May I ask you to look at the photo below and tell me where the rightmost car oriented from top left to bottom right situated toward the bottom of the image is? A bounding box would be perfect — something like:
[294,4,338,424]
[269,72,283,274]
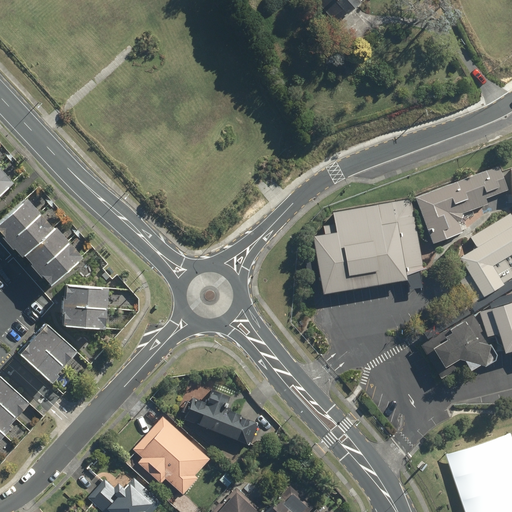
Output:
[256,414,272,430]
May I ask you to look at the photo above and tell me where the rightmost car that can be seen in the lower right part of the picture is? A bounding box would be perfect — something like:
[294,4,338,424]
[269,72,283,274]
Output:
[383,400,398,418]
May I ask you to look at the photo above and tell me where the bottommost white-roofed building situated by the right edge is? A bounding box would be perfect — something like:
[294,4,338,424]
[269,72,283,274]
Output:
[447,434,512,512]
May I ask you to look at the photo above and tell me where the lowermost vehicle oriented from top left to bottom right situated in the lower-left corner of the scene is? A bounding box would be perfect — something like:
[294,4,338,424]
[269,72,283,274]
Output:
[77,474,92,489]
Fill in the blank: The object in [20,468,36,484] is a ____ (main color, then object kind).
white car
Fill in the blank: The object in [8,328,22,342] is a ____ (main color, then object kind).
blue car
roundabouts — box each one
[186,272,234,319]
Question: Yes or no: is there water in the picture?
No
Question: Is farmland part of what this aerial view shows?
Yes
